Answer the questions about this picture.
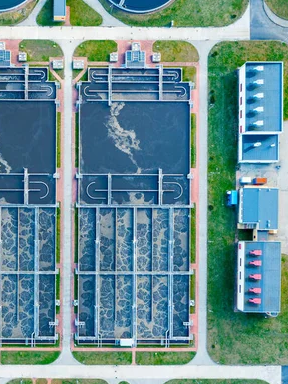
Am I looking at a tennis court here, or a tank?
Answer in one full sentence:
The image shows a tank.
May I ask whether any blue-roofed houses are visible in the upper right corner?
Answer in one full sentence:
Yes, a blue-roofed house shows up in the upper right corner.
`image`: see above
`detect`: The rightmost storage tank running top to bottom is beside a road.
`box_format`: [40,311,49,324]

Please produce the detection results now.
[73,62,196,349]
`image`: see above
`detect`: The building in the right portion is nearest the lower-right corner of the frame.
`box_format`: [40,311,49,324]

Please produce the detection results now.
[239,240,282,312]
